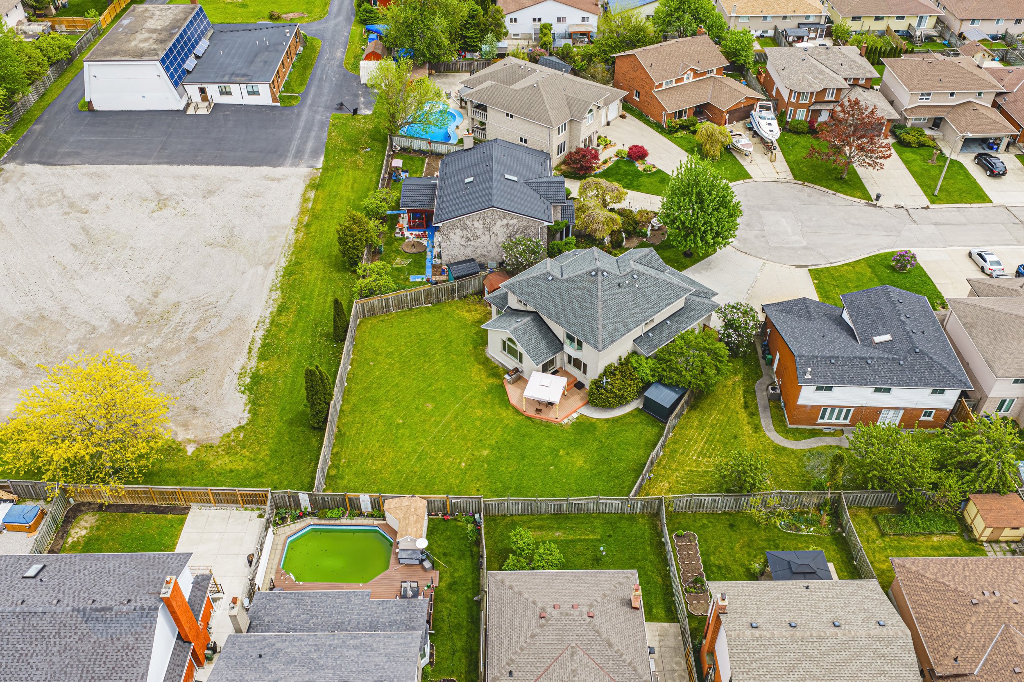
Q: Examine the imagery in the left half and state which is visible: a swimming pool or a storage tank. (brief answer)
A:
swimming pool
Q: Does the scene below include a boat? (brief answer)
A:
Yes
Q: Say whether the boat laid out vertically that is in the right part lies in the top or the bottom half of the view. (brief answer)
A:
top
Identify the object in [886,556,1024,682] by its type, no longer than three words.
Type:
house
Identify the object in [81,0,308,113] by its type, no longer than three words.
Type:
building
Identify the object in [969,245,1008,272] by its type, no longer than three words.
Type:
car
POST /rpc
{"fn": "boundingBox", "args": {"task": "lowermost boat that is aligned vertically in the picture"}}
[751,97,780,155]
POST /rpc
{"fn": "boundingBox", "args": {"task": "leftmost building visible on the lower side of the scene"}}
[0,552,230,682]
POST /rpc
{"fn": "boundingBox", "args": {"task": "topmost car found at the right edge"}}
[975,153,1010,175]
